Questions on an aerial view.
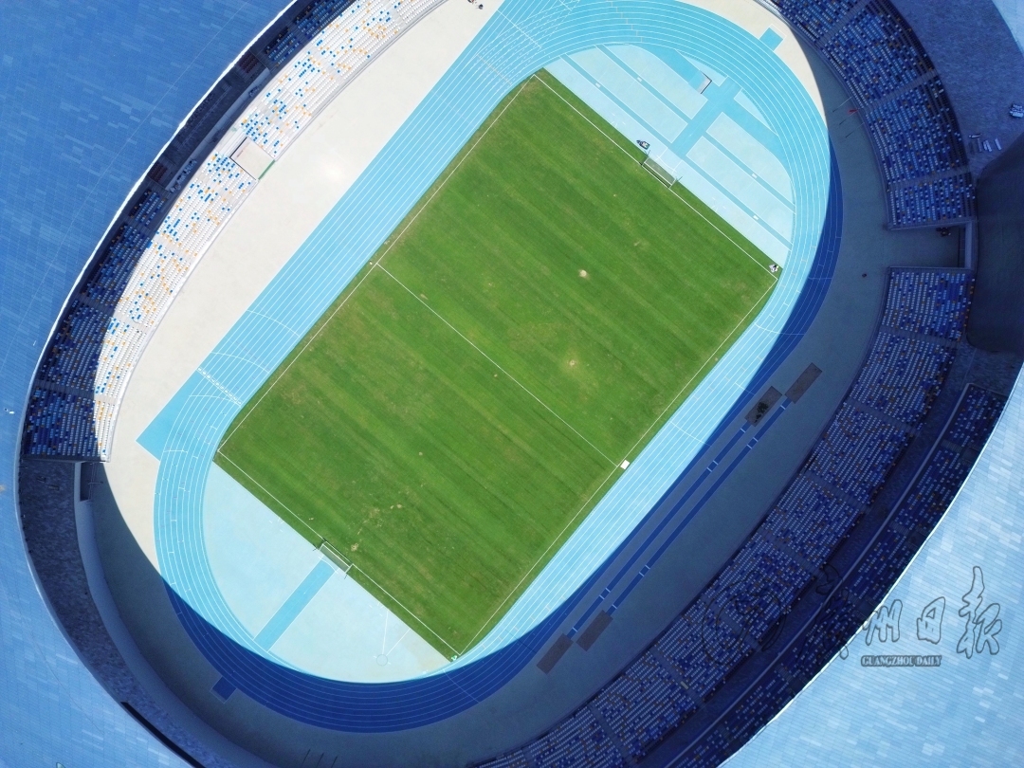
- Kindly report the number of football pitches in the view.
1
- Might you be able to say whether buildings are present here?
No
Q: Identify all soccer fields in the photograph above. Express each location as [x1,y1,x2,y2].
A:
[213,67,783,662]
